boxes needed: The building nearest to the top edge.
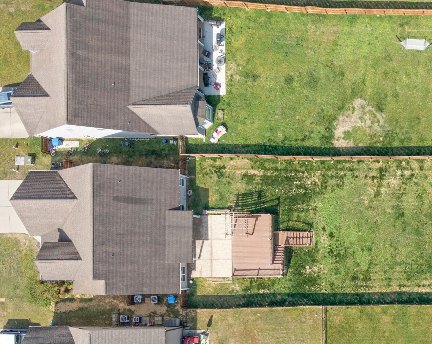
[10,0,212,142]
